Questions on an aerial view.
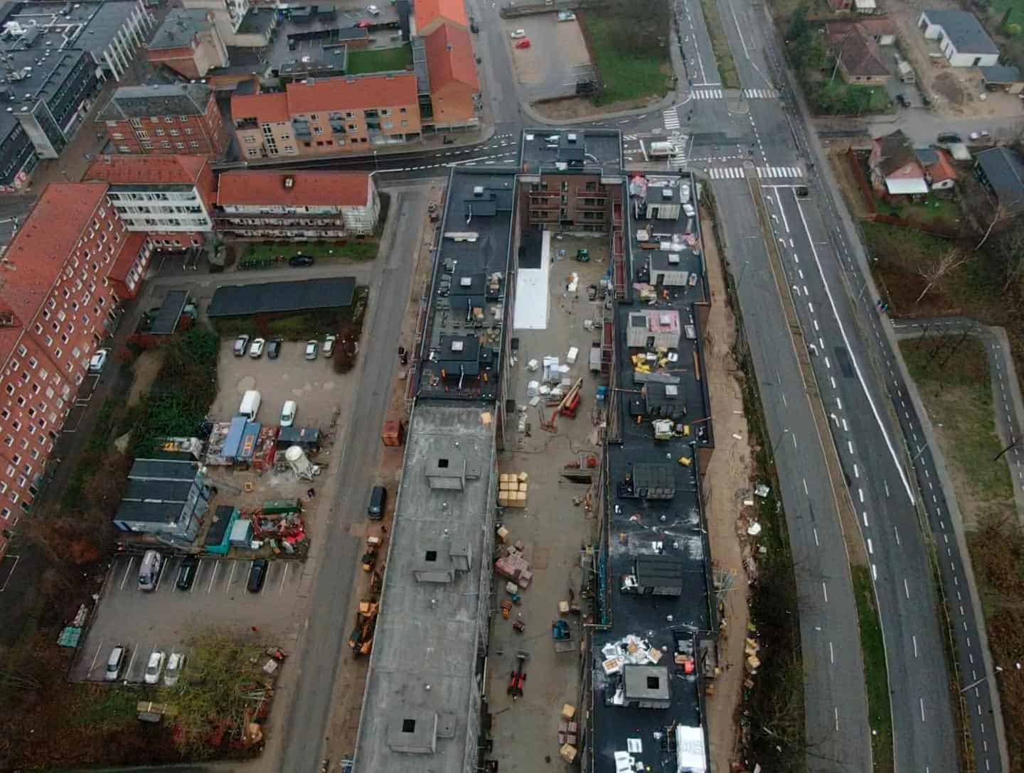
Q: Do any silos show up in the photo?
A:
Yes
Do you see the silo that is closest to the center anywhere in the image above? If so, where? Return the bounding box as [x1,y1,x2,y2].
[286,451,320,487]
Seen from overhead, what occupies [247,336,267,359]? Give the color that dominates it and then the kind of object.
white car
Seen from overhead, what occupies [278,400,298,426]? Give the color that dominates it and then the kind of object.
white car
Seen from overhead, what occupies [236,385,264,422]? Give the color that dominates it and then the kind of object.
white van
